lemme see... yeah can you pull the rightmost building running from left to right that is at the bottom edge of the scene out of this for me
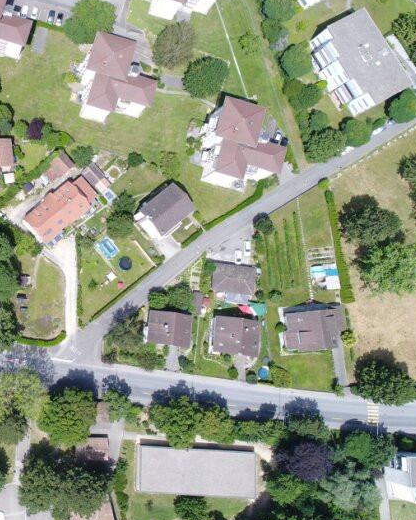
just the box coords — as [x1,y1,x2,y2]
[132,438,256,499]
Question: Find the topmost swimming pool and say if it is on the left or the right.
left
